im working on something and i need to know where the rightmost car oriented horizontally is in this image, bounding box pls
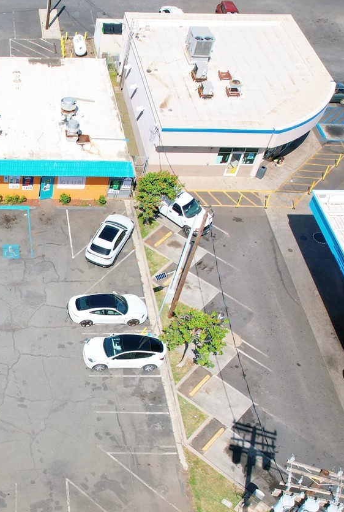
[211,2,240,15]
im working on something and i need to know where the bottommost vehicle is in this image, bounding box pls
[81,331,169,371]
